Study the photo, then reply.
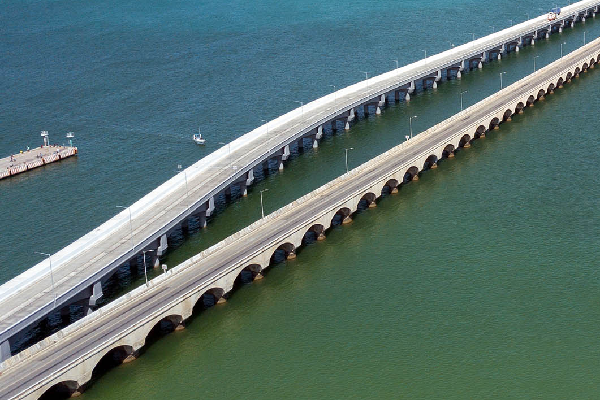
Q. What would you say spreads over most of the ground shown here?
water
